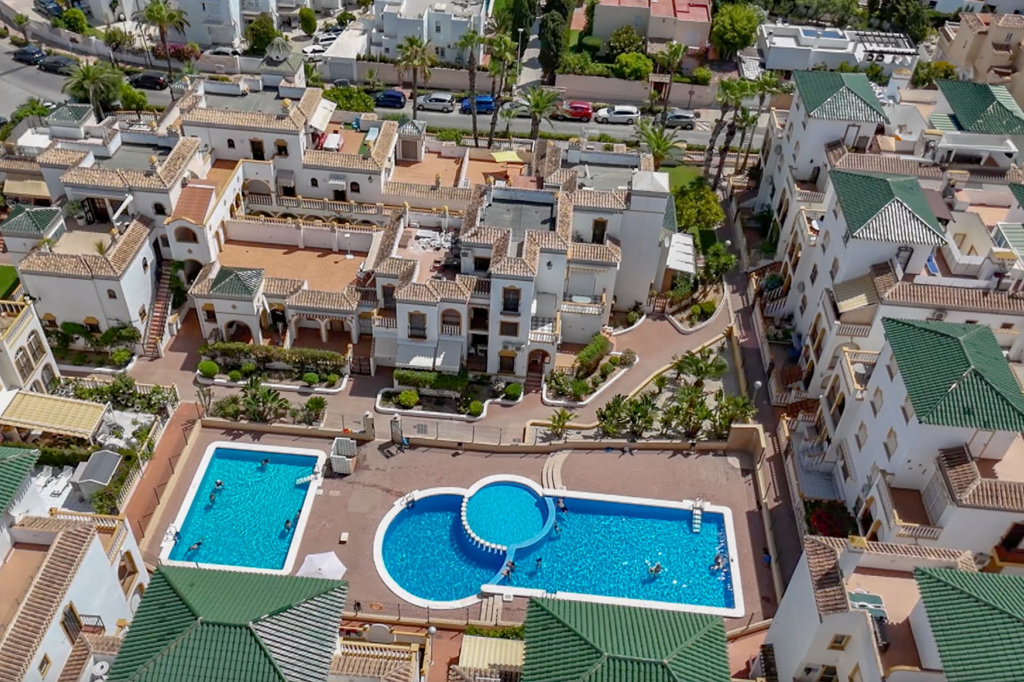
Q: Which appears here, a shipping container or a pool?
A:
pool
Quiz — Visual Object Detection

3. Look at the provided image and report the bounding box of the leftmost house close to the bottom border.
[0,510,148,682]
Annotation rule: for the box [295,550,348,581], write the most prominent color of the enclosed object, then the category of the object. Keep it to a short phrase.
white umbrella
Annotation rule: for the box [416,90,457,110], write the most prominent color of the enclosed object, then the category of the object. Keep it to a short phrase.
gray car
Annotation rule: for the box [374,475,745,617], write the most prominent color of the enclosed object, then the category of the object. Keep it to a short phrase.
blue swimming pool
